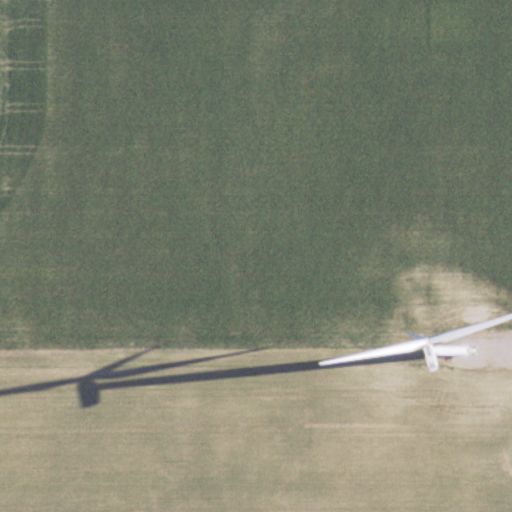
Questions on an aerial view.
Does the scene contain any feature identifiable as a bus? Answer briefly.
No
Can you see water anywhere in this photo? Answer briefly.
No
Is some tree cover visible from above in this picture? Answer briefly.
No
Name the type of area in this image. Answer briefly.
farmland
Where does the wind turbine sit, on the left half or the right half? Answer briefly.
right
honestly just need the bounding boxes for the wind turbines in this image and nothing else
[318,316,512,372]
